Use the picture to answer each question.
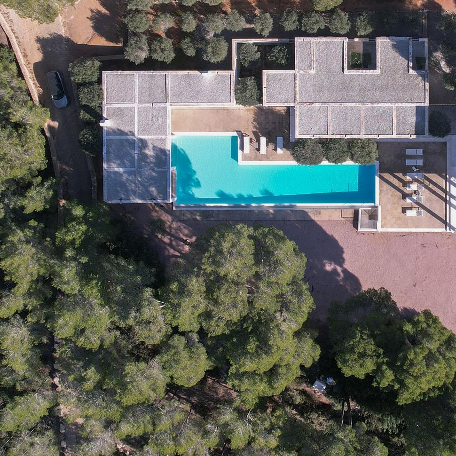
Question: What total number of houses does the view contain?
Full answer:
There are 2 houses in the image.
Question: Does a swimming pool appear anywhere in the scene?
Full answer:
Yes, there's a swimming pool down there.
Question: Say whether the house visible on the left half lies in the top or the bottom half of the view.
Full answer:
The top half of the photo is where the house visible on the left half is.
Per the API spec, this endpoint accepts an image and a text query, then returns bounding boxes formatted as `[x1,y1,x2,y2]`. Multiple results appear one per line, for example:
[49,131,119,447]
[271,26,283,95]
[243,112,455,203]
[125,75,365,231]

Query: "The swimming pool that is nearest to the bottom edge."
[170,132,378,210]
